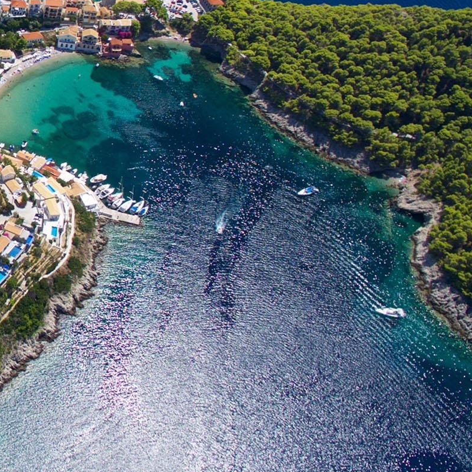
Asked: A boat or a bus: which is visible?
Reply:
boat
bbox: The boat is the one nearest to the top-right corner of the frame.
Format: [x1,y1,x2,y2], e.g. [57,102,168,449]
[297,170,321,195]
